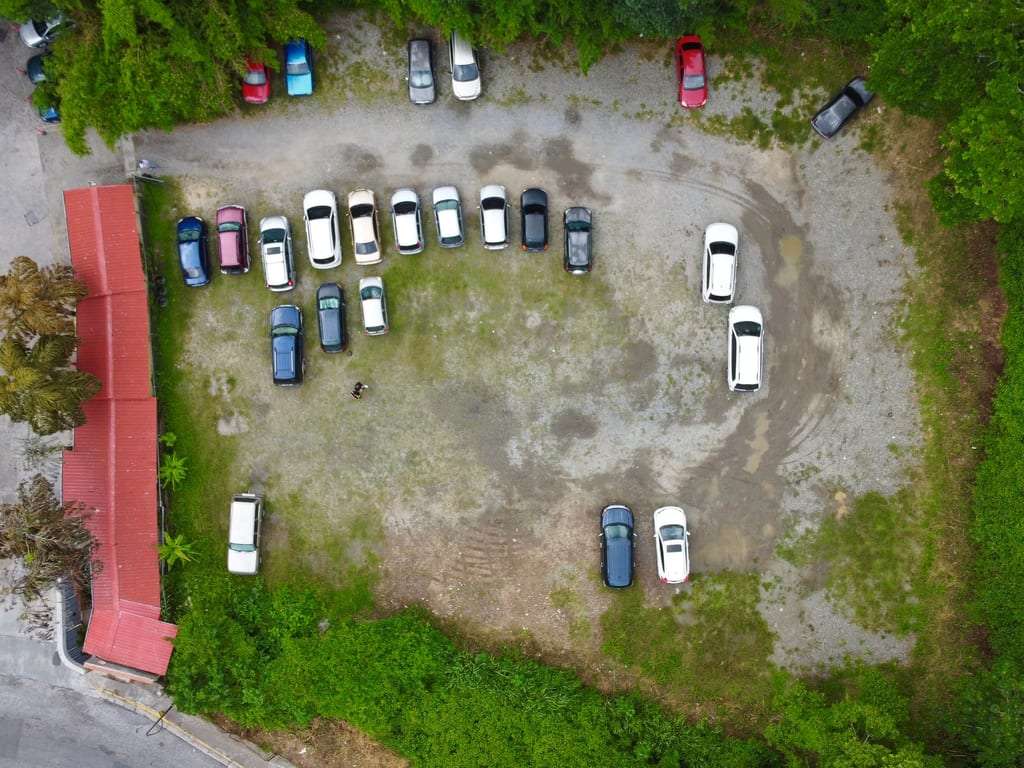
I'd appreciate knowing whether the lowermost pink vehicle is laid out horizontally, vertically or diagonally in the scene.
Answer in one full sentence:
The lowermost pink vehicle is oriented vertically.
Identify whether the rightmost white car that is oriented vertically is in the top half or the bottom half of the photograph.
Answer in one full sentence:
It is in the top half that the rightmost white car that is oriented vertically appears.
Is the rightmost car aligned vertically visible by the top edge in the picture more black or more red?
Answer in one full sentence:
In this view, the rightmost car aligned vertically visible by the top edge is red.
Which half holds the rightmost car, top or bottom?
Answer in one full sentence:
The top half of the photo is where the rightmost car is.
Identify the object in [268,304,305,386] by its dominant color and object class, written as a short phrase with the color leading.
blue car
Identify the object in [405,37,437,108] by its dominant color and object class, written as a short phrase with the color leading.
gray car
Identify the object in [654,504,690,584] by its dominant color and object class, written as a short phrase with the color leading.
white car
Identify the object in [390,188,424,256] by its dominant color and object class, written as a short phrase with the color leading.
white car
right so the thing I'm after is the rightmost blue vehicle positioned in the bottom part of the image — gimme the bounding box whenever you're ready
[601,504,637,588]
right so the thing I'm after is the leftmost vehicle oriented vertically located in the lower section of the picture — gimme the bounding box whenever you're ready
[227,495,262,575]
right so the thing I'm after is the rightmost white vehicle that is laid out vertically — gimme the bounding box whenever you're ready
[702,222,740,304]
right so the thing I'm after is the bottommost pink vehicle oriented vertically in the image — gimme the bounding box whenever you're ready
[215,205,251,276]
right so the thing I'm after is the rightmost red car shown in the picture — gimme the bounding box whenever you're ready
[674,34,710,110]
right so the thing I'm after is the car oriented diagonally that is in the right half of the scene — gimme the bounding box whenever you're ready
[810,75,871,140]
